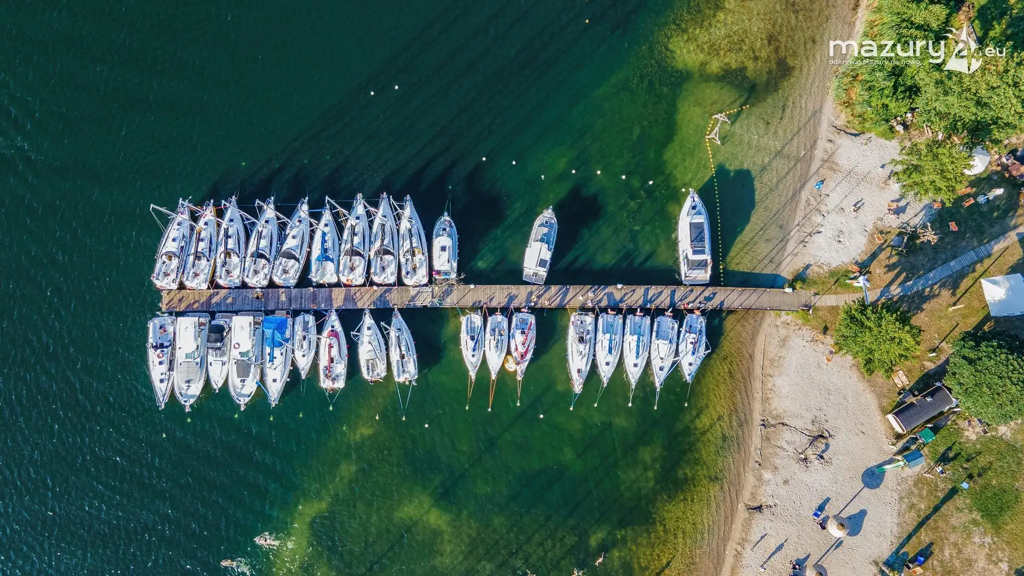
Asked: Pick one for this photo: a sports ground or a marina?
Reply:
marina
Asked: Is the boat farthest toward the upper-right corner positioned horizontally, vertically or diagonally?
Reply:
vertically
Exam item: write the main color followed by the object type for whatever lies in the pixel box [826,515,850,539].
white umbrella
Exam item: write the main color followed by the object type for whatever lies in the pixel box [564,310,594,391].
white boat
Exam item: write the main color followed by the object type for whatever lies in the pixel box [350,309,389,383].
white boat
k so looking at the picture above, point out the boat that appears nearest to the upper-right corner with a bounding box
[677,190,712,287]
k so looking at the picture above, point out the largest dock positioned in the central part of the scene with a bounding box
[160,284,818,313]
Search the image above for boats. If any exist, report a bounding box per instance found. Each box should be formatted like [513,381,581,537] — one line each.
[432,199,461,284]
[649,312,685,389]
[677,190,712,287]
[292,204,340,287]
[327,193,370,287]
[502,353,516,374]
[204,317,233,388]
[170,312,211,404]
[382,308,419,385]
[523,205,559,284]
[257,197,313,289]
[225,311,264,404]
[151,198,221,291]
[564,310,594,391]
[146,313,176,409]
[459,310,485,380]
[485,311,508,378]
[221,195,281,289]
[277,310,320,377]
[390,193,427,288]
[234,314,294,406]
[302,308,352,393]
[621,311,654,387]
[593,311,622,385]
[350,309,389,383]
[509,309,534,379]
[153,196,191,291]
[360,191,399,288]
[677,309,714,381]
[182,195,247,289]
